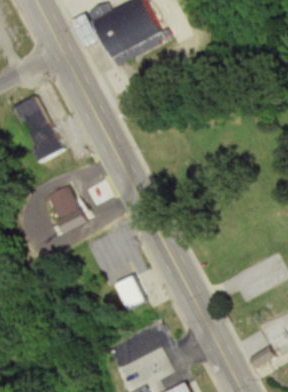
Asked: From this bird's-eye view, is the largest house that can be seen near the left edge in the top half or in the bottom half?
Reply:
top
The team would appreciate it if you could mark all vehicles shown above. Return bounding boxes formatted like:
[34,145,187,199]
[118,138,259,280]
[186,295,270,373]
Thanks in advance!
[126,372,140,381]
[96,187,102,198]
